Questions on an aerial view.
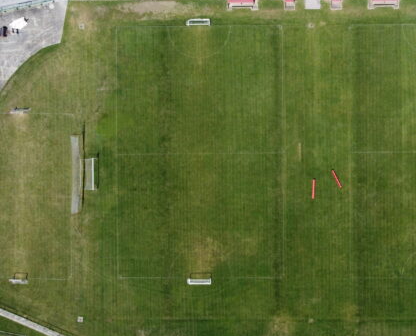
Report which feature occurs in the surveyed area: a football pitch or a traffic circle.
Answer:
football pitch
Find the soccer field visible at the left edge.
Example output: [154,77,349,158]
[0,114,71,280]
